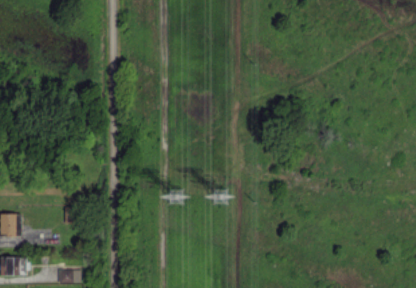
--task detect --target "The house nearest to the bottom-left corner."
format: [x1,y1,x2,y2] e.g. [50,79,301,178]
[0,257,32,276]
